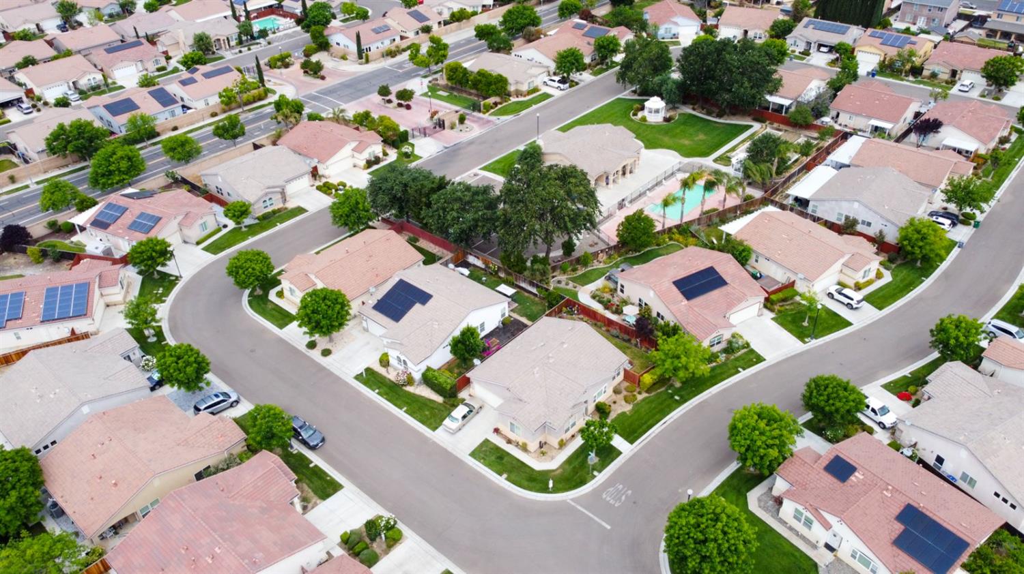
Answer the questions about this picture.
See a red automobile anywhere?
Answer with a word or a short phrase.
No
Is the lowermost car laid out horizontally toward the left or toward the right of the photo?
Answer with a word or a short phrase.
left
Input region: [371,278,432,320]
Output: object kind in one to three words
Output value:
solar array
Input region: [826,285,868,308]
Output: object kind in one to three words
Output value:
car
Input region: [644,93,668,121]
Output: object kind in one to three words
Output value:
gazebo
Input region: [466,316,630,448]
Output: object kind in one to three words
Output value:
house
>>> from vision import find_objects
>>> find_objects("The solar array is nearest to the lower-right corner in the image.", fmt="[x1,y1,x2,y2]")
[892,503,970,574]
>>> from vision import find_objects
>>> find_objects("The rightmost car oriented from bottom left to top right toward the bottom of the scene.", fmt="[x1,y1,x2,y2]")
[441,398,483,433]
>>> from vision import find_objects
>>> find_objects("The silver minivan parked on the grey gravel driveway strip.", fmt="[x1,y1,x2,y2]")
[190,393,240,416]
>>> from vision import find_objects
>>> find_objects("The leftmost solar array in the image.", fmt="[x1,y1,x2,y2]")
[0,291,25,321]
